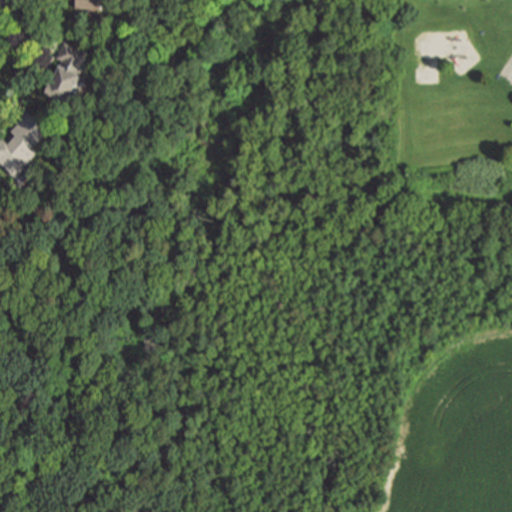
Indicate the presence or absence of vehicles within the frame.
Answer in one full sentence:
No, there isn't any vehicle down there.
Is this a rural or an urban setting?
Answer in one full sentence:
The land in this view is best described as rural.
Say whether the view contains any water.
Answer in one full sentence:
No, the picture contains no water.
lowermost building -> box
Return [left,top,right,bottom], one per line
[0,122,42,180]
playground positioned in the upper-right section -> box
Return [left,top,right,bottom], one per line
[415,29,481,84]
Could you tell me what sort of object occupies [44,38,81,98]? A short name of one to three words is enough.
house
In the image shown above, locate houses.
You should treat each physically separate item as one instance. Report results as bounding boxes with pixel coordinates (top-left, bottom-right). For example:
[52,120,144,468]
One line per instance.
[74,0,103,14]
[0,122,42,180]
[44,38,81,98]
